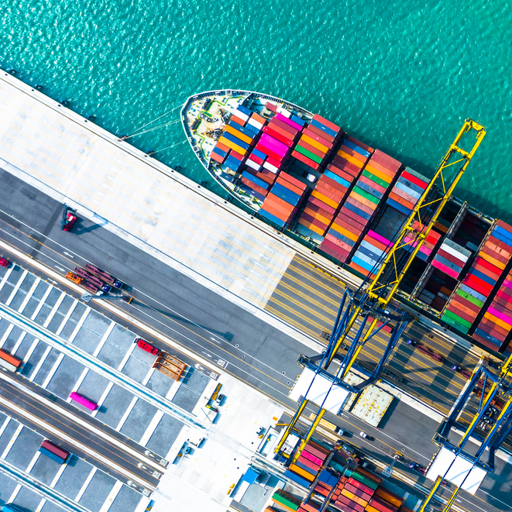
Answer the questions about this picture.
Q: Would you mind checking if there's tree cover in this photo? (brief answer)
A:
No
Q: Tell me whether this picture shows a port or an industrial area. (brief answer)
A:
port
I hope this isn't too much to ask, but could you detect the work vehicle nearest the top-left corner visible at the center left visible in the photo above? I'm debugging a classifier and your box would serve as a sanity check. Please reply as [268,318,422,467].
[58,202,80,233]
